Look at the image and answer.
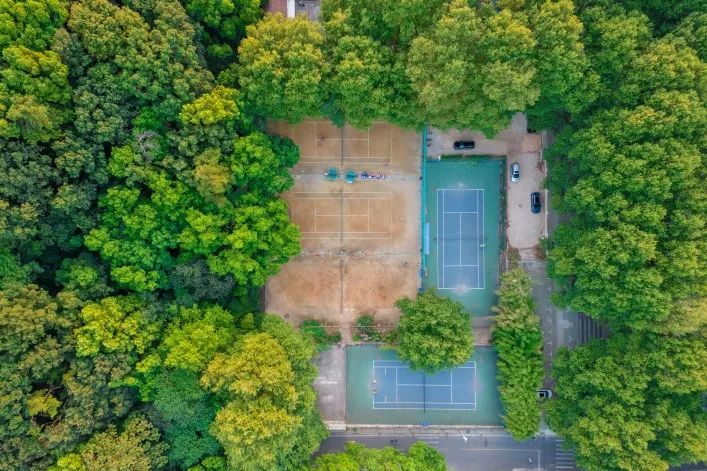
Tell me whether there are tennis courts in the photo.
Yes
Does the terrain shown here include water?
No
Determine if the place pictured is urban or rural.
rural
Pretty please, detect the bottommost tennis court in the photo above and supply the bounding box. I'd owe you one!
[347,345,503,425]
